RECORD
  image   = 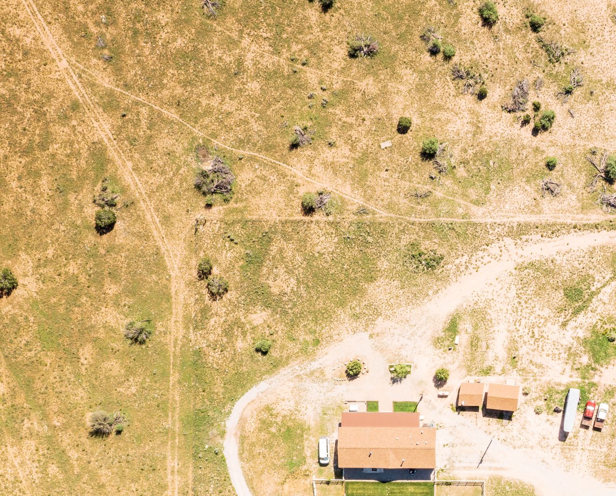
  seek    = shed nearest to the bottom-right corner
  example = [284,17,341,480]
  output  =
[487,383,520,411]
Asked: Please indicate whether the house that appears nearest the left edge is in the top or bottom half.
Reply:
bottom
